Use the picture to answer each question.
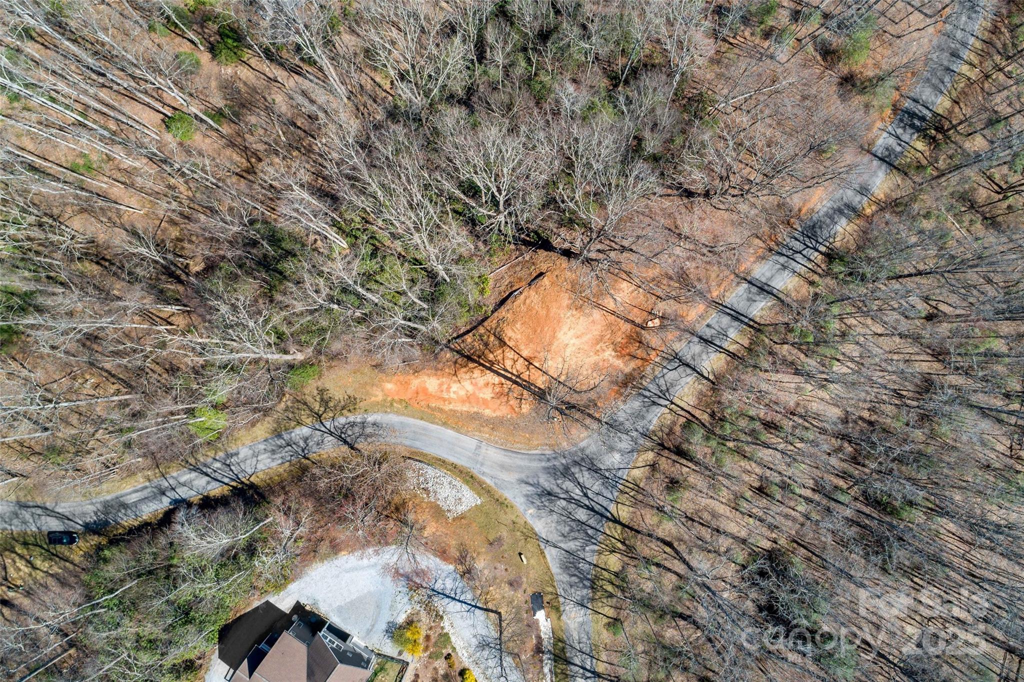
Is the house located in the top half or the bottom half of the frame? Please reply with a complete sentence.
The bottom half of the photo is where the house is.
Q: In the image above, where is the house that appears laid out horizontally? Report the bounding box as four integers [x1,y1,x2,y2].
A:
[231,618,375,682]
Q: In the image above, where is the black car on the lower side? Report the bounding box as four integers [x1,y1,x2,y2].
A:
[44,532,76,547]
